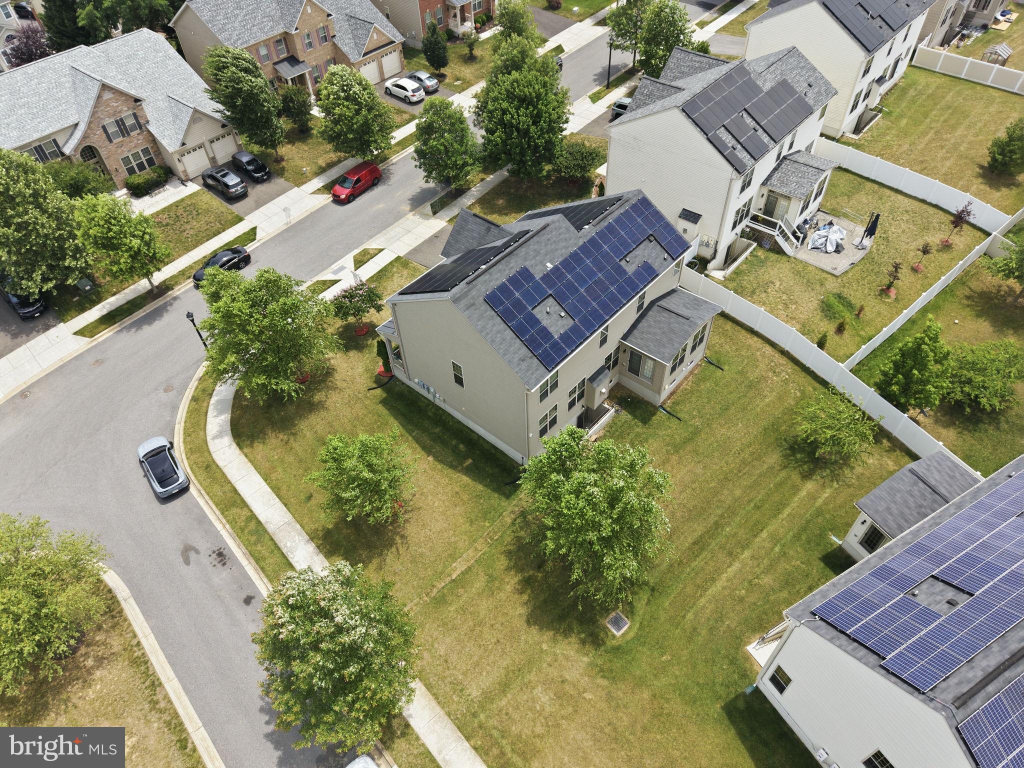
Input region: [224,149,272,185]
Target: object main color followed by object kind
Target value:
black car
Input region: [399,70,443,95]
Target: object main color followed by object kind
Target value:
gray car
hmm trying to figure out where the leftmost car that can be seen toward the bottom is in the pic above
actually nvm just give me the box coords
[136,437,192,510]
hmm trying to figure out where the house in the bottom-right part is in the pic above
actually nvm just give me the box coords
[746,450,1024,768]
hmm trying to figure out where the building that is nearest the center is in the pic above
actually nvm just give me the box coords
[374,188,721,465]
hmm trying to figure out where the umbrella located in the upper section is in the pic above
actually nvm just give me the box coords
[851,208,878,252]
